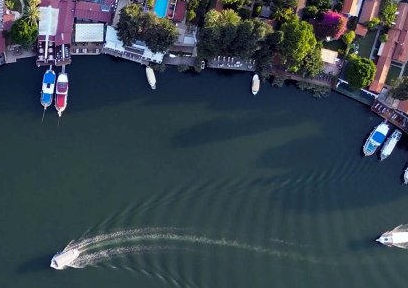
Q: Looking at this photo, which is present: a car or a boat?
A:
boat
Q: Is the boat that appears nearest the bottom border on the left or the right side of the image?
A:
left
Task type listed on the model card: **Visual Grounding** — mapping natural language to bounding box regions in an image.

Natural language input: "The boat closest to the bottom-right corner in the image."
[374,231,408,244]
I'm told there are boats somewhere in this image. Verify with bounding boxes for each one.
[56,72,68,116]
[374,231,408,244]
[145,66,156,90]
[49,247,83,267]
[43,69,55,111]
[379,130,400,162]
[363,121,388,157]
[252,74,260,95]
